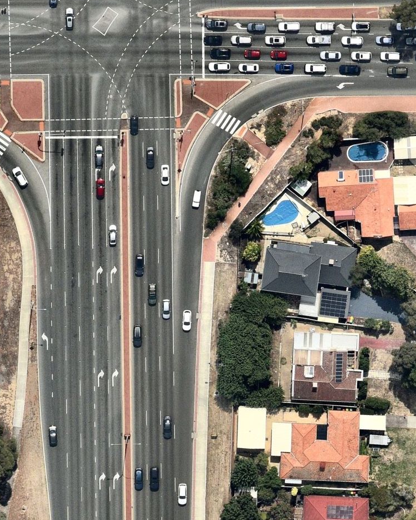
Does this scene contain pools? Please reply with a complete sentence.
Yes, a pool can be made out from above.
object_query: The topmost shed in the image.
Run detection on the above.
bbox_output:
[393,136,416,160]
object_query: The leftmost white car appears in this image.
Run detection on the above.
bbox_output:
[12,166,29,189]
